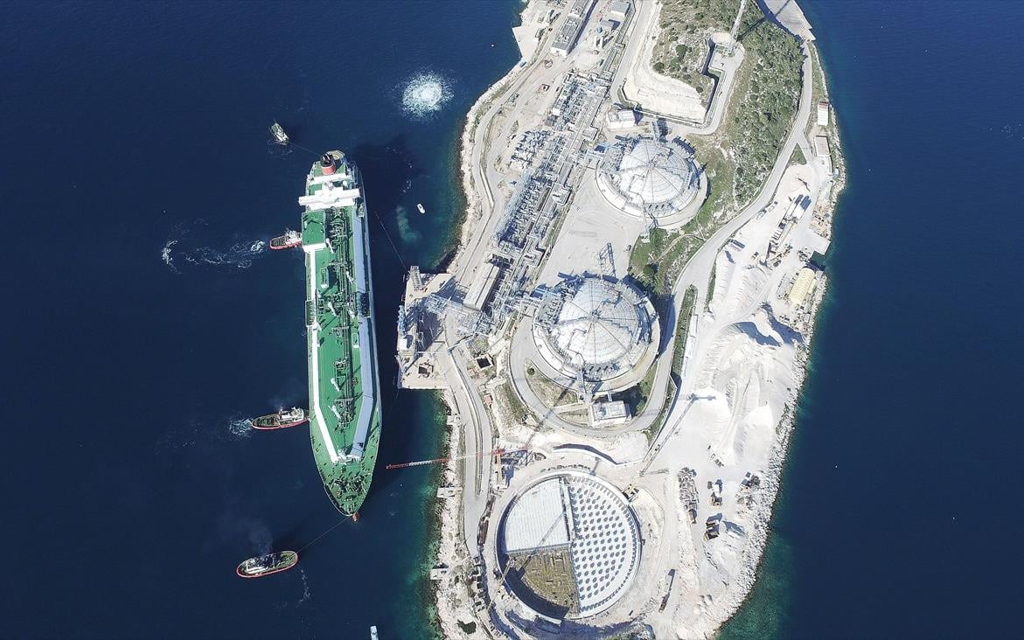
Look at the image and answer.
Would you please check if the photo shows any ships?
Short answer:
Yes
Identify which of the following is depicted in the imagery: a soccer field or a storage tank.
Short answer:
storage tank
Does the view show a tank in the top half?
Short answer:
Yes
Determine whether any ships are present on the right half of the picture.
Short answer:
No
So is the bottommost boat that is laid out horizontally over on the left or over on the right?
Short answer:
left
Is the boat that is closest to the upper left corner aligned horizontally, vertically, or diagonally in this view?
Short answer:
diagonally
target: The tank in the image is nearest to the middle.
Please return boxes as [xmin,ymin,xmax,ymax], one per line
[531,249,662,395]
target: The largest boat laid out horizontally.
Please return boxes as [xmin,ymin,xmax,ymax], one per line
[236,549,299,578]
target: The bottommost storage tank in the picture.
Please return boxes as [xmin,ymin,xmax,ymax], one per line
[494,460,643,621]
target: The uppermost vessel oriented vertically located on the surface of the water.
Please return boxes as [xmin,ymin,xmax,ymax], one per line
[295,147,382,524]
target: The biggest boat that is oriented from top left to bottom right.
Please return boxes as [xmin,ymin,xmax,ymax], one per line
[269,123,289,144]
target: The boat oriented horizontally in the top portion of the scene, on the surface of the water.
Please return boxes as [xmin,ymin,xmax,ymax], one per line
[269,230,301,249]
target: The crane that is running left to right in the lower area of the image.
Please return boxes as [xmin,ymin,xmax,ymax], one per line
[386,448,528,487]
